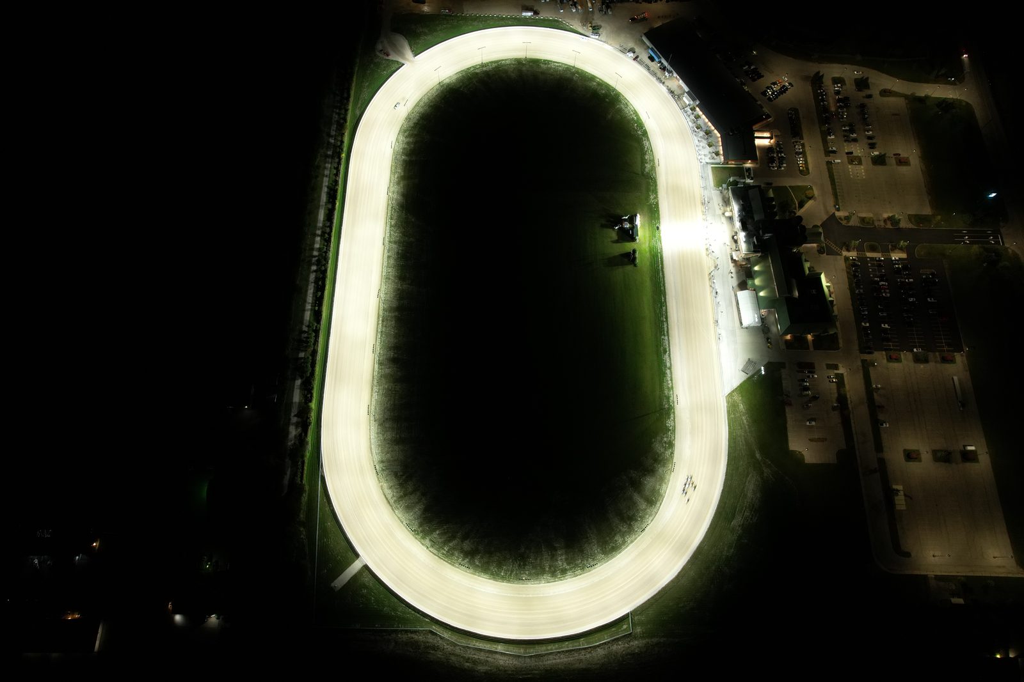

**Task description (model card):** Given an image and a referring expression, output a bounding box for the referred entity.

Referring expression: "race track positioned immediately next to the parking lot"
[324,28,724,636]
